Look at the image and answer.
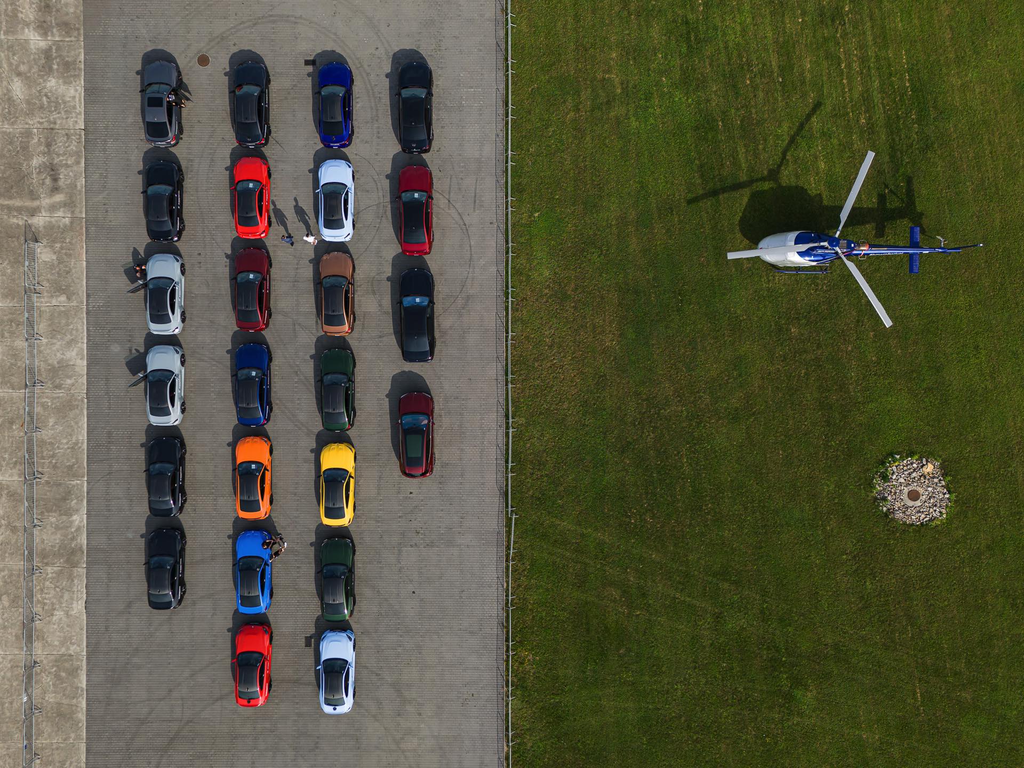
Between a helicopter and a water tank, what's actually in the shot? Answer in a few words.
helicopter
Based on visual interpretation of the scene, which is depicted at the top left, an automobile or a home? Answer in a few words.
automobile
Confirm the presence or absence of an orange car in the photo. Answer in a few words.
Yes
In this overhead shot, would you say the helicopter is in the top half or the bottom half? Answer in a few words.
top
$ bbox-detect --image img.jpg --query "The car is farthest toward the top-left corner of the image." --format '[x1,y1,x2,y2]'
[138,60,195,149]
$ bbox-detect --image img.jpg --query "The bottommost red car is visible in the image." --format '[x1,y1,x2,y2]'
[230,623,273,709]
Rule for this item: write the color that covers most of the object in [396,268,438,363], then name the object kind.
black car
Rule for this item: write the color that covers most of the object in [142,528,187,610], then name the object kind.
black car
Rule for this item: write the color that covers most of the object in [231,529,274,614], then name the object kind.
blue car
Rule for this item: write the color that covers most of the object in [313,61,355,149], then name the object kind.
blue car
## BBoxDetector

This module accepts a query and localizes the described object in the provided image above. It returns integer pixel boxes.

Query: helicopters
[730,151,983,328]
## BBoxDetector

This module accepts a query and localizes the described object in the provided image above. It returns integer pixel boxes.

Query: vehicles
[395,165,436,256]
[124,345,186,425]
[396,268,438,363]
[142,528,187,610]
[231,529,274,614]
[229,61,272,149]
[315,252,356,336]
[123,254,186,334]
[316,537,357,622]
[314,159,355,242]
[230,343,273,427]
[231,436,274,520]
[316,347,357,431]
[229,248,272,332]
[316,442,357,527]
[143,437,188,517]
[228,156,271,239]
[140,160,185,243]
[230,623,273,709]
[395,392,437,479]
[315,629,356,716]
[138,60,195,149]
[313,61,355,149]
[394,61,436,155]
